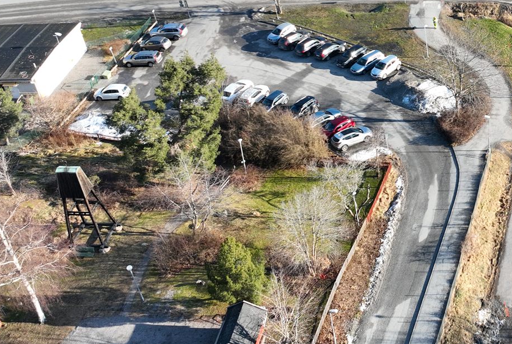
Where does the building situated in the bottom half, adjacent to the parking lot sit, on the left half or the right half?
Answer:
left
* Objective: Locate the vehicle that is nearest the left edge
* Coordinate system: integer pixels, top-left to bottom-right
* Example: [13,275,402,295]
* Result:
[91,84,132,102]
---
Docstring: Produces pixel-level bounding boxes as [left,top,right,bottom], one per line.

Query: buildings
[54,162,127,253]
[213,300,268,344]
[0,22,85,104]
